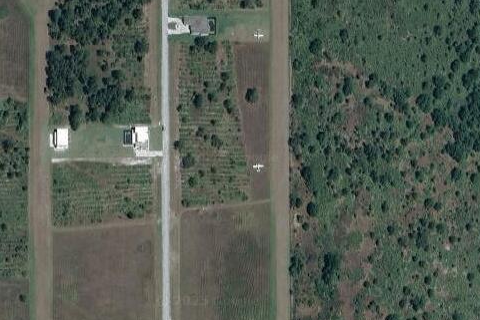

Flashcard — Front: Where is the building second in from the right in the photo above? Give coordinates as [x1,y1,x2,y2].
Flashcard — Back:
[124,126,163,156]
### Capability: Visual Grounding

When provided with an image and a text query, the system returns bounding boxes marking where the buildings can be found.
[169,17,216,35]
[50,129,68,150]
[124,126,163,156]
